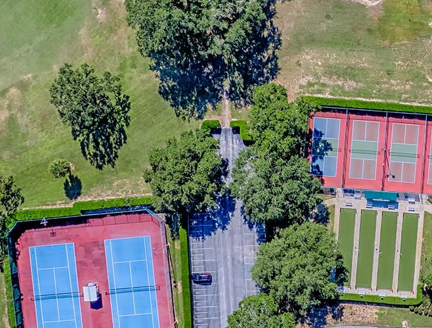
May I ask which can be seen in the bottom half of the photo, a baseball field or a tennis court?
tennis court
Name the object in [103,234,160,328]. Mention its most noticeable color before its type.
blue tennis court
